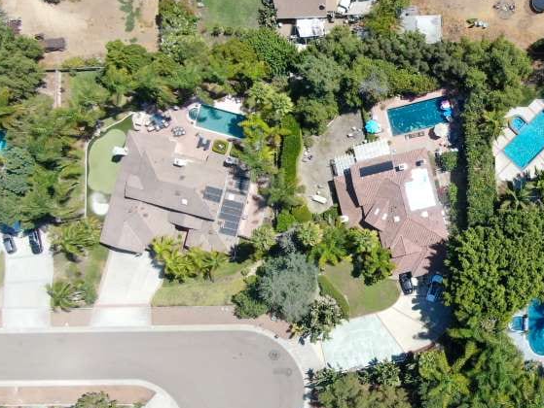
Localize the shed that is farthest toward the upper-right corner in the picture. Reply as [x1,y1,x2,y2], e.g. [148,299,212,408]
[401,7,443,42]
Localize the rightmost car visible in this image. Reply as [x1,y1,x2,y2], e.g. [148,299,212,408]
[426,274,444,302]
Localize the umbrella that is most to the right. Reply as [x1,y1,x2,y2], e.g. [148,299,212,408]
[433,122,450,138]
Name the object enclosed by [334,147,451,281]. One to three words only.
house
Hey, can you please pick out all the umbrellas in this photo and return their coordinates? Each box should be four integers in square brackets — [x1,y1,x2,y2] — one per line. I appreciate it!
[365,119,382,134]
[150,110,166,126]
[433,122,450,138]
